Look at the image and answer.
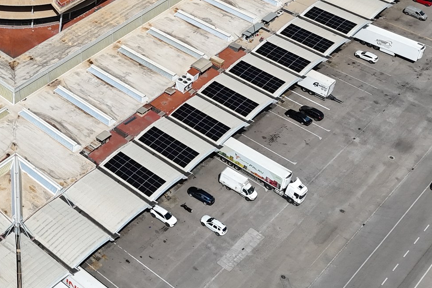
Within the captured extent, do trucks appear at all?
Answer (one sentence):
Yes, there's a truck here.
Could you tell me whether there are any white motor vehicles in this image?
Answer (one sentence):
Yes, you can see a white motor vehicle in this photo.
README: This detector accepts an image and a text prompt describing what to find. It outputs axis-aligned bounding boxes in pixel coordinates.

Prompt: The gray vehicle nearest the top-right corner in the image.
[403,5,427,21]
